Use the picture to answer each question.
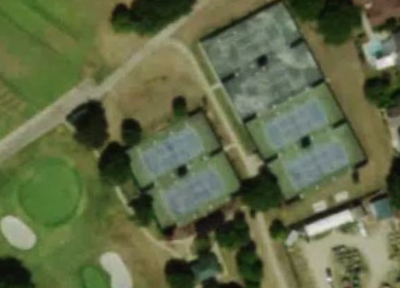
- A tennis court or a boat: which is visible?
tennis court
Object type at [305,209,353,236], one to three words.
shed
